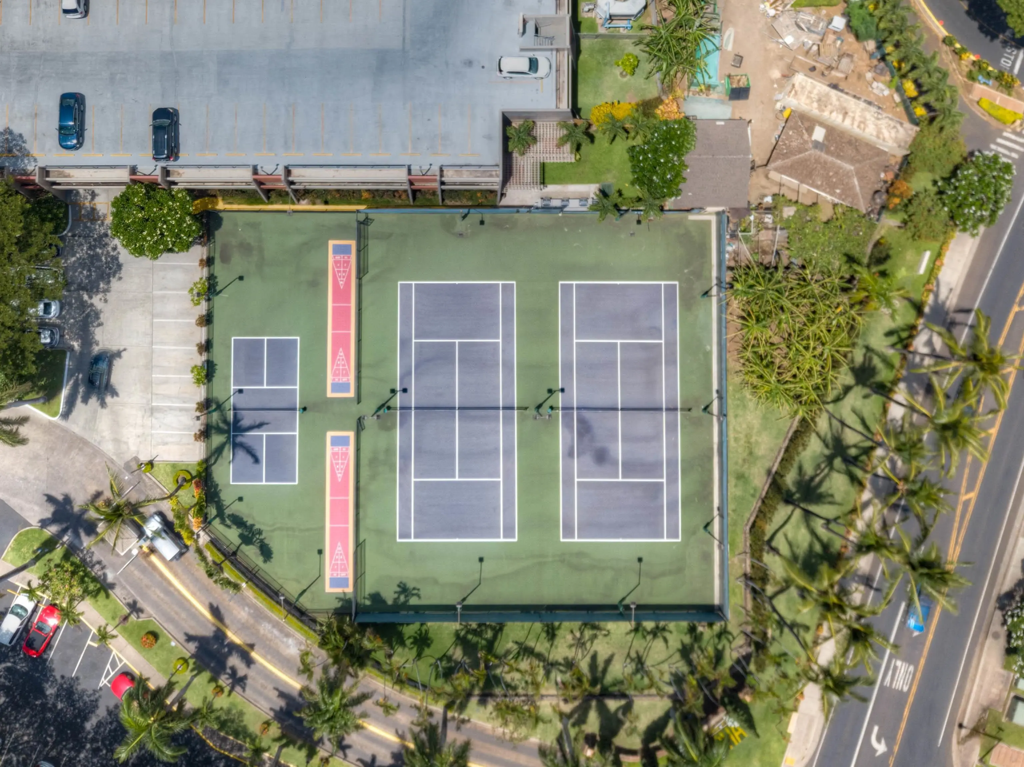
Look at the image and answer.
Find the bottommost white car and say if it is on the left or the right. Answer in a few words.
left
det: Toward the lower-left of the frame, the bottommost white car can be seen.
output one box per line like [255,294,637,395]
[0,594,37,647]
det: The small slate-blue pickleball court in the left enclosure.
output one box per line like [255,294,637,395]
[230,337,300,484]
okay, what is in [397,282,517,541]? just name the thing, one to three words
tennis court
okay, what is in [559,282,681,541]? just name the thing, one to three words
tennis court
